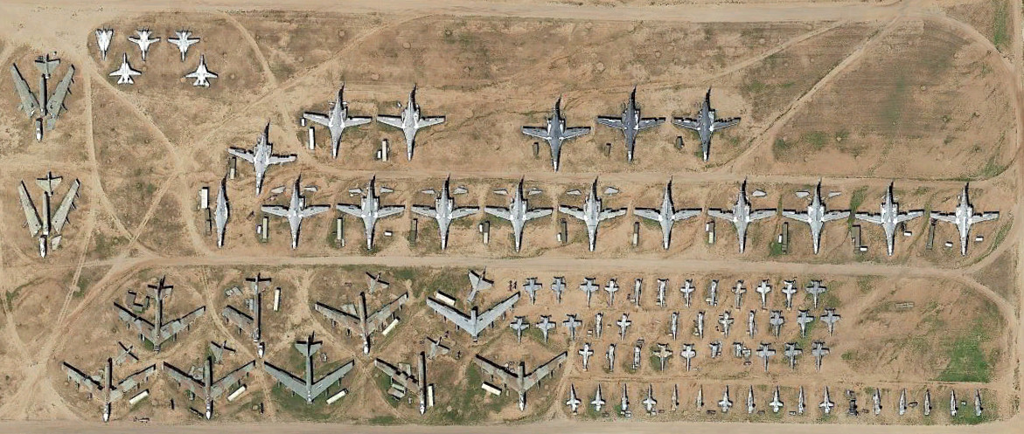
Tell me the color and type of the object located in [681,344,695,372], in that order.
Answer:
white airplane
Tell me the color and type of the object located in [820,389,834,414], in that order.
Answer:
white airplane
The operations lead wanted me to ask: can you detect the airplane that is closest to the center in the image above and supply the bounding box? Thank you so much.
[485,182,553,252]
